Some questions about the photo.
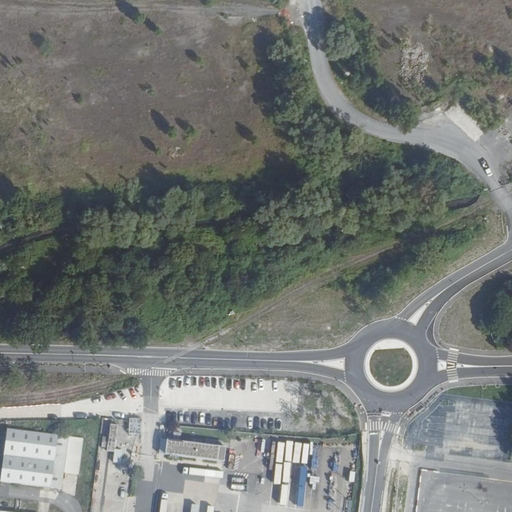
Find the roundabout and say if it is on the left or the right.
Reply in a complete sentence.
It is on the right.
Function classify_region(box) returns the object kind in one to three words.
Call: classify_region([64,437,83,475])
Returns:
shed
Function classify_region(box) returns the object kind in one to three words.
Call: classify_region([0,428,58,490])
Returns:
building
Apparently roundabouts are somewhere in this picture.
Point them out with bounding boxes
[337,292,459,418]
